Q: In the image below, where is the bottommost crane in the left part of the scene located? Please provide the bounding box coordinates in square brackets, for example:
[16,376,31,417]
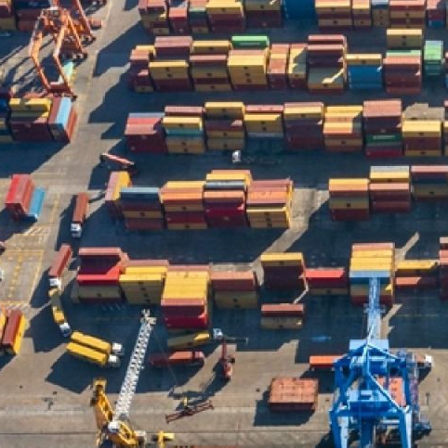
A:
[87,311,186,448]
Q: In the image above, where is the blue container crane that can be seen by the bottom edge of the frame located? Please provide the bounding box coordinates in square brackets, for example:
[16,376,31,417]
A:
[332,272,436,448]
